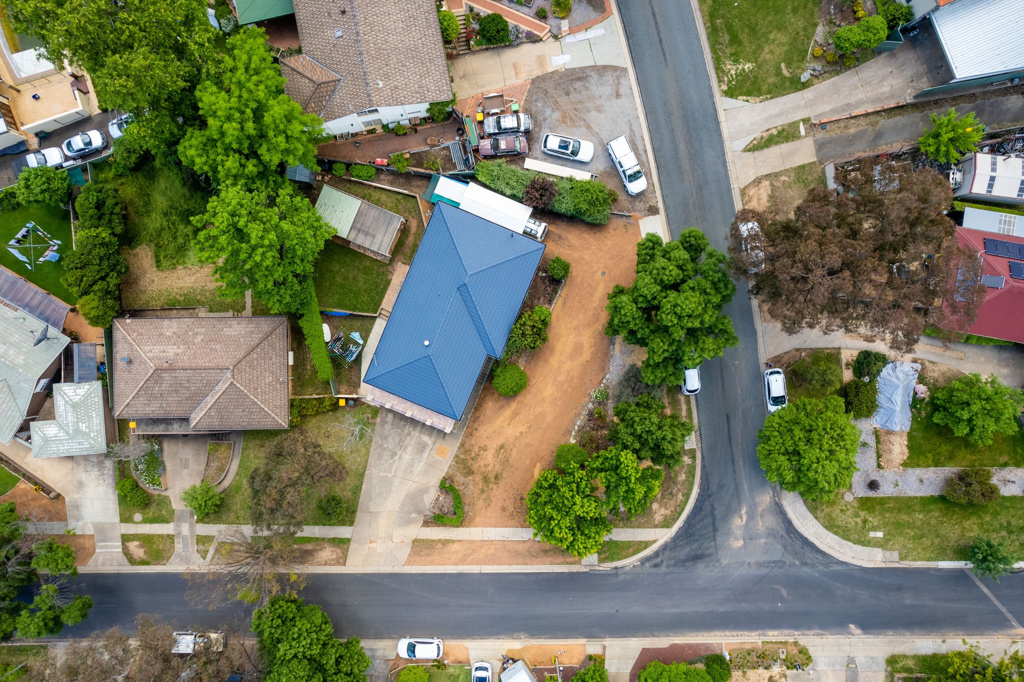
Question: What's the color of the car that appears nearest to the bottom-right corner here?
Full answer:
In this view, the car that appears nearest to the bottom-right corner is white.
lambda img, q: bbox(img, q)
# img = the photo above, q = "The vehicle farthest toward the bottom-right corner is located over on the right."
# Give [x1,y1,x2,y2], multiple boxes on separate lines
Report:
[767,368,791,417]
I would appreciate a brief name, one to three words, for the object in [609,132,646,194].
truck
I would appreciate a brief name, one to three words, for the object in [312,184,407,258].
shed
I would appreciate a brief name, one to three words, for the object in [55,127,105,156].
car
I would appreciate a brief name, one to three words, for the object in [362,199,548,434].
house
